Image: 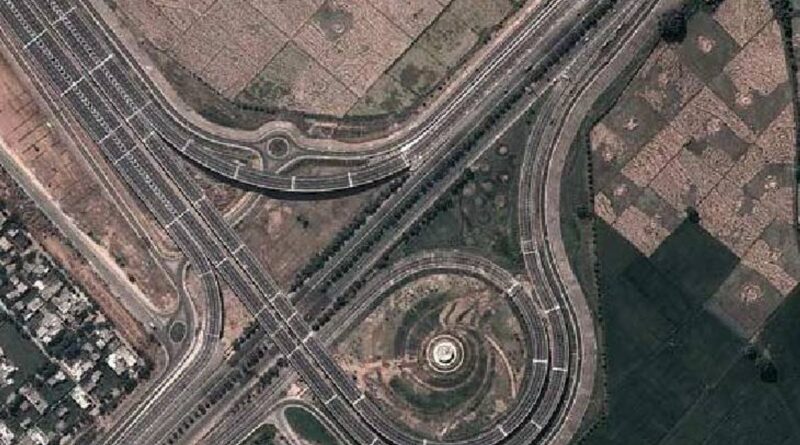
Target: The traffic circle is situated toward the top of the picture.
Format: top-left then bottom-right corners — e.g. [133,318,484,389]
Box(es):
[262,132,294,162]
